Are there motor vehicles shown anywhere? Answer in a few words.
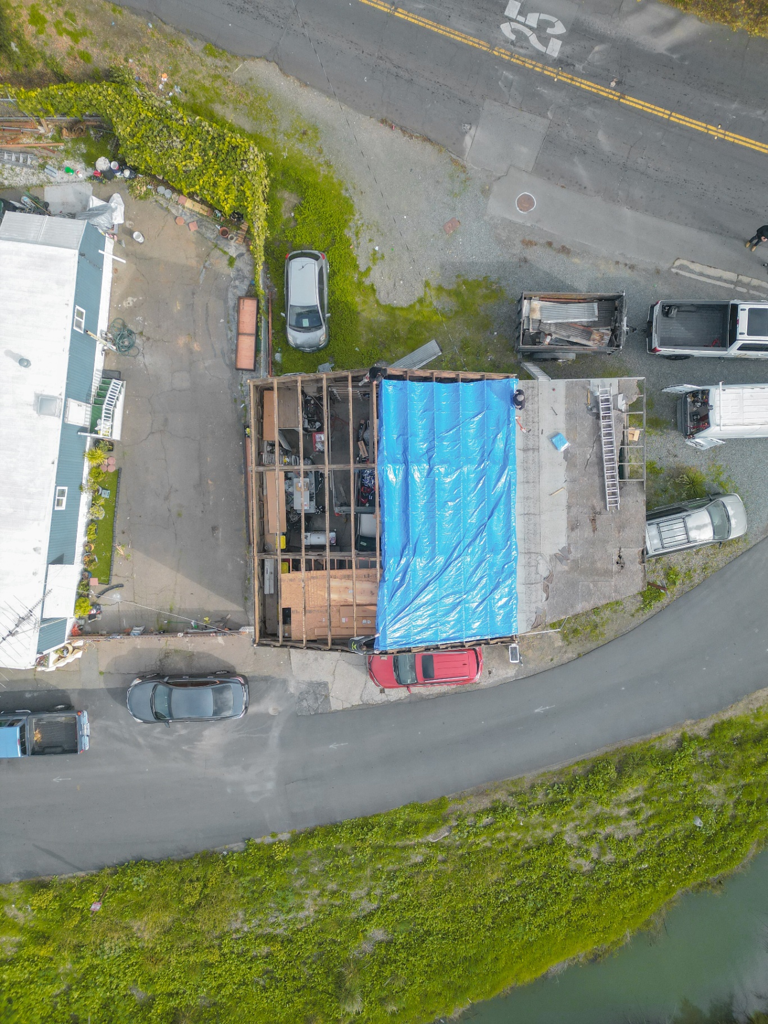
Yes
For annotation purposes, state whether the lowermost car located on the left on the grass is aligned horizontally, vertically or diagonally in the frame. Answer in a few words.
vertically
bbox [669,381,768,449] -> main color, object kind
white van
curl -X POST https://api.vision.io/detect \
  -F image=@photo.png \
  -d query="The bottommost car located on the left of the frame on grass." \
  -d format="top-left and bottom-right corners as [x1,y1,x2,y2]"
[279,250,331,353]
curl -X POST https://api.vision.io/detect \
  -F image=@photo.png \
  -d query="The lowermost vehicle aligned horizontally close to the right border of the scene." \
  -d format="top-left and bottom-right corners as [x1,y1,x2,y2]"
[647,494,749,557]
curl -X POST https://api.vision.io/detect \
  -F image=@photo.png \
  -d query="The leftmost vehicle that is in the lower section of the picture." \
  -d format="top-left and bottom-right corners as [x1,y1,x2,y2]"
[0,700,90,757]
